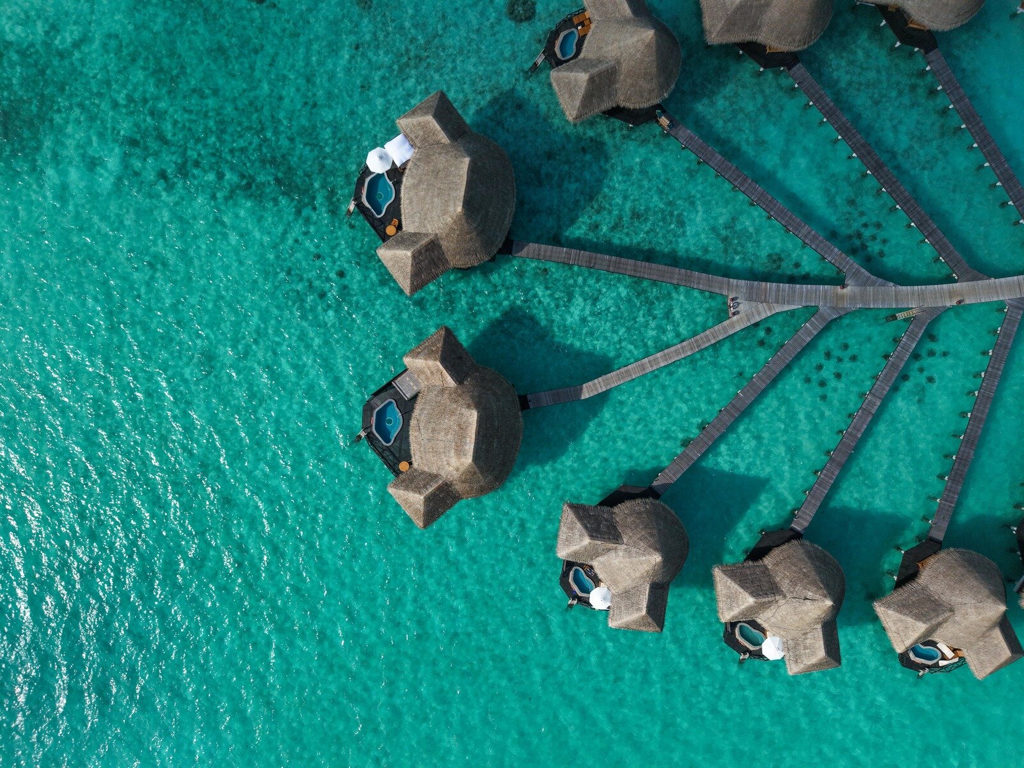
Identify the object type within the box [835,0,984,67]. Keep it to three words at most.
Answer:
house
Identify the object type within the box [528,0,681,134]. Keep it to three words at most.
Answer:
house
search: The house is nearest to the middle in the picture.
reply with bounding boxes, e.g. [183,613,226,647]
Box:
[354,326,528,528]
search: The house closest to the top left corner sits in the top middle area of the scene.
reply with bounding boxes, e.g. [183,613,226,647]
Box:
[345,90,516,297]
